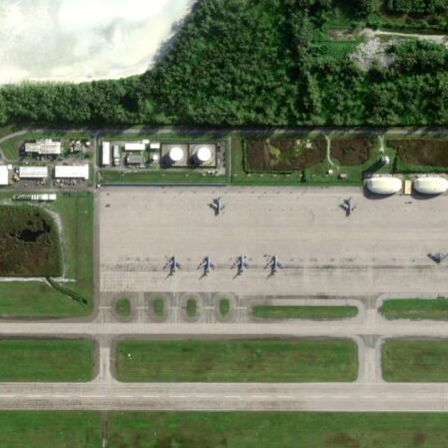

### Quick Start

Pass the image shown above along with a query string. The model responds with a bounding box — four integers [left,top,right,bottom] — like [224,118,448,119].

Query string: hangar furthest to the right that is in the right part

[414,176,448,194]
